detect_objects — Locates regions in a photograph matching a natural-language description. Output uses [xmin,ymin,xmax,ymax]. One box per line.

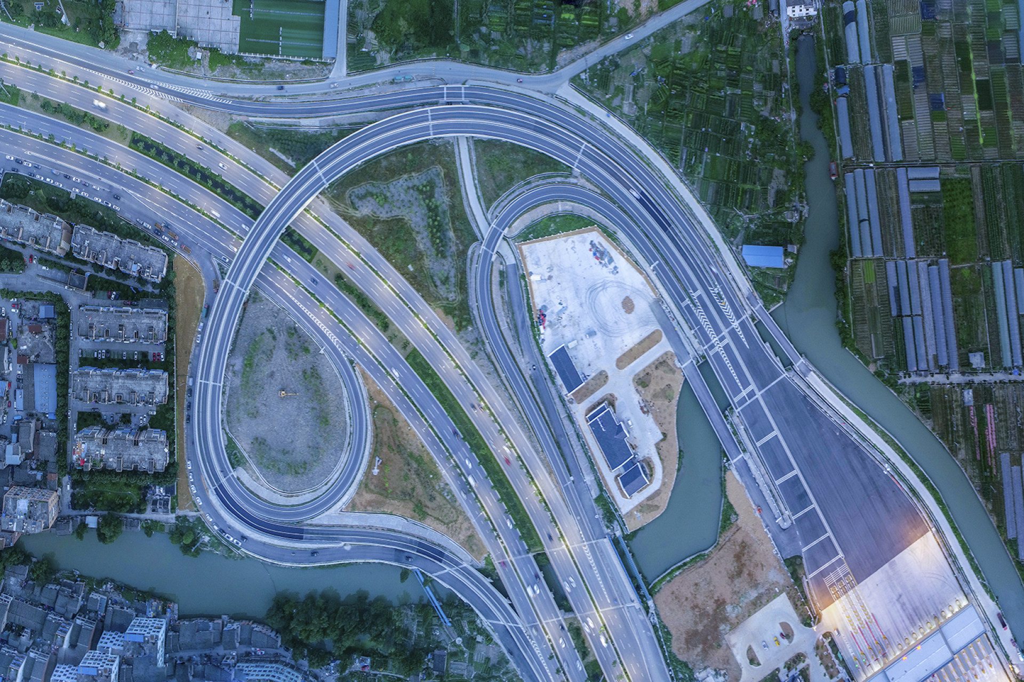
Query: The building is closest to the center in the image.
[547,343,585,396]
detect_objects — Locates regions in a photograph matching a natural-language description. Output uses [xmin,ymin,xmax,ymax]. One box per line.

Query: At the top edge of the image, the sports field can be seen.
[234,0,323,58]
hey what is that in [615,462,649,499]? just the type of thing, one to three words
house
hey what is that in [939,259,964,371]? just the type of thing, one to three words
greenhouse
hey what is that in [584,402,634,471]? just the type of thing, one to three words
building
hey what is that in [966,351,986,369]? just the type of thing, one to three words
shed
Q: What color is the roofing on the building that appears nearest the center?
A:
blue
